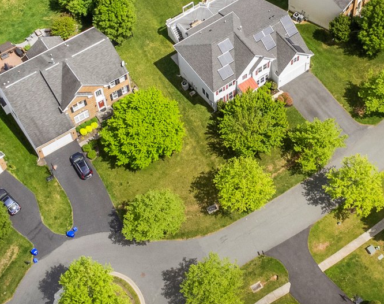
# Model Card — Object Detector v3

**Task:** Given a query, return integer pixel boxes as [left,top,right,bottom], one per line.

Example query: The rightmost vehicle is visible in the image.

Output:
[71,150,95,183]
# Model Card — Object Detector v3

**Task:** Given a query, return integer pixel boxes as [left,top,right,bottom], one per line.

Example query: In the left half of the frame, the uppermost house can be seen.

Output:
[0,27,133,158]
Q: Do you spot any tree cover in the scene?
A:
Yes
